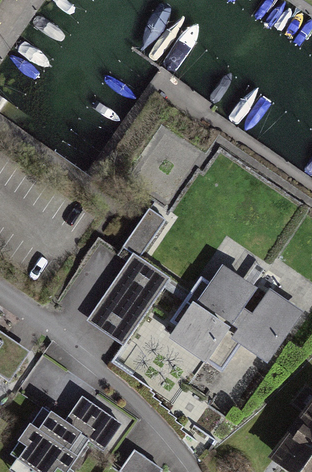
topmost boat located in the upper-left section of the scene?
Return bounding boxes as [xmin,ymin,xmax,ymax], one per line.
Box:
[54,0,76,14]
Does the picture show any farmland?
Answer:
No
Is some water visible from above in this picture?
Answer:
Yes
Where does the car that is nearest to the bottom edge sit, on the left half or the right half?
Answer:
left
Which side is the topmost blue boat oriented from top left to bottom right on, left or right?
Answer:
left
